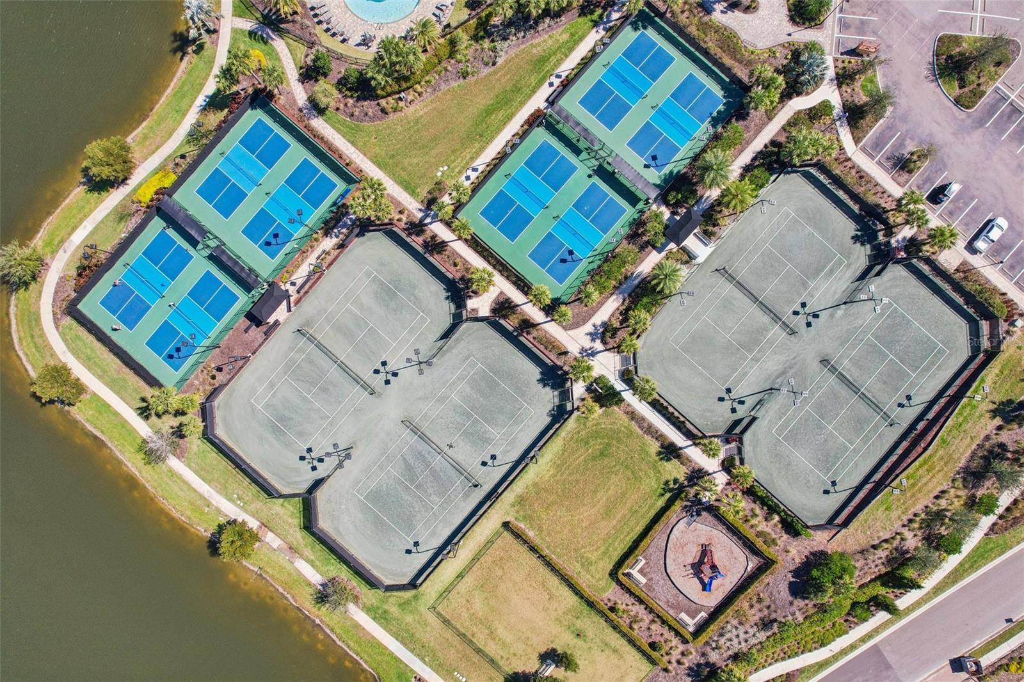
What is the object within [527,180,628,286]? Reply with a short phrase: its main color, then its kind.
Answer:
blue sports court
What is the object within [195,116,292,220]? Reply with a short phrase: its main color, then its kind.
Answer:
blue sports court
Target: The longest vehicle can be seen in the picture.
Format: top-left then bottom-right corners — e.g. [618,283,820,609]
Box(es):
[971,217,1011,257]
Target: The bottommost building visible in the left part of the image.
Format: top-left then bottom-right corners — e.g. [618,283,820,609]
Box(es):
[251,281,293,322]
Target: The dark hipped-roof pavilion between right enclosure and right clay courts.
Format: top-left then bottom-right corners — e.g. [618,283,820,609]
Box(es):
[663,208,703,247]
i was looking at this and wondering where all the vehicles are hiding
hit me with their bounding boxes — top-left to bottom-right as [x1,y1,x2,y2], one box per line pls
[971,217,1011,257]
[932,184,957,205]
